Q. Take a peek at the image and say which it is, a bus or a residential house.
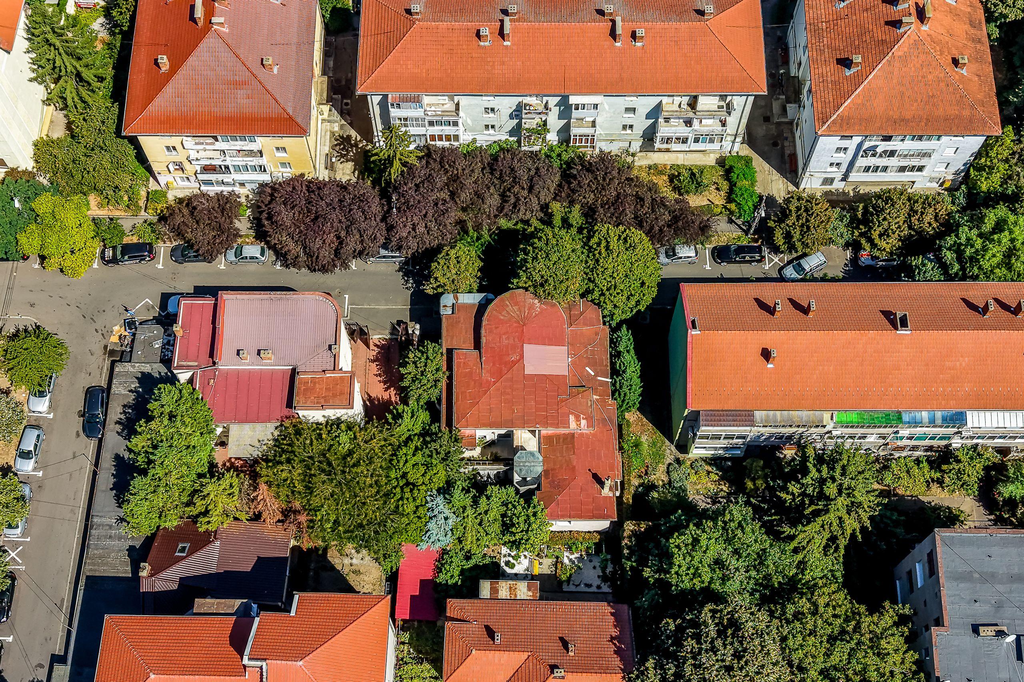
residential house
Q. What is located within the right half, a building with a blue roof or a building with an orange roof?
building with an orange roof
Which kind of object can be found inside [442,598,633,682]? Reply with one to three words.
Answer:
house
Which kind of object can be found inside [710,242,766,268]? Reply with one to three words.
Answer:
car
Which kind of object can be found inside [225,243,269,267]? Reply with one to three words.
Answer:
car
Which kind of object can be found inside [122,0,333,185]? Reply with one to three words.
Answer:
building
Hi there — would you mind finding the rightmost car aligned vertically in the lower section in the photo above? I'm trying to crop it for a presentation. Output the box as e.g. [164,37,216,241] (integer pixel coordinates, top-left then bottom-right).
[80,385,109,440]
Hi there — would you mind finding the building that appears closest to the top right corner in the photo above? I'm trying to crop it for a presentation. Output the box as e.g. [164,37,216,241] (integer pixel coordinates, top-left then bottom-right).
[772,0,1002,181]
